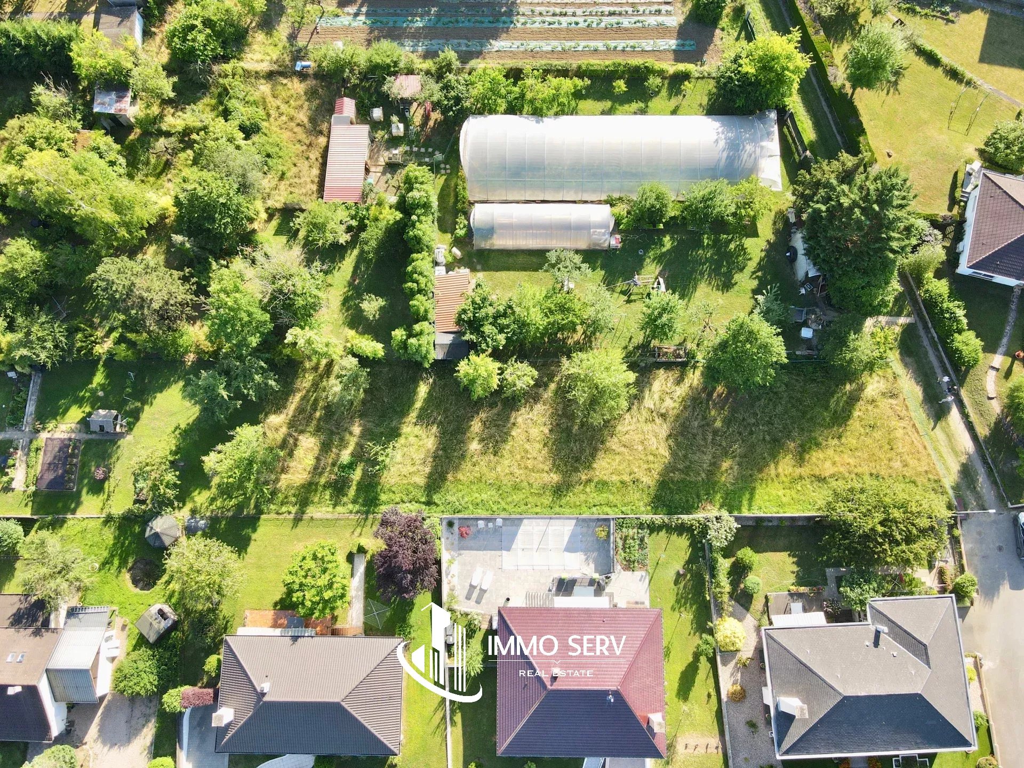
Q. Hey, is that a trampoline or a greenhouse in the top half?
greenhouse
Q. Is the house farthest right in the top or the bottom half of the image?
top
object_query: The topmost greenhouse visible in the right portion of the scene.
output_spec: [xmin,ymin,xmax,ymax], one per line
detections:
[461,110,782,201]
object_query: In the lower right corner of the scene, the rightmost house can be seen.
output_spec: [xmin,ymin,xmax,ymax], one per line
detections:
[755,590,982,763]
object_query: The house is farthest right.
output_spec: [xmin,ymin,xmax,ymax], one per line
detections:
[949,168,1024,297]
